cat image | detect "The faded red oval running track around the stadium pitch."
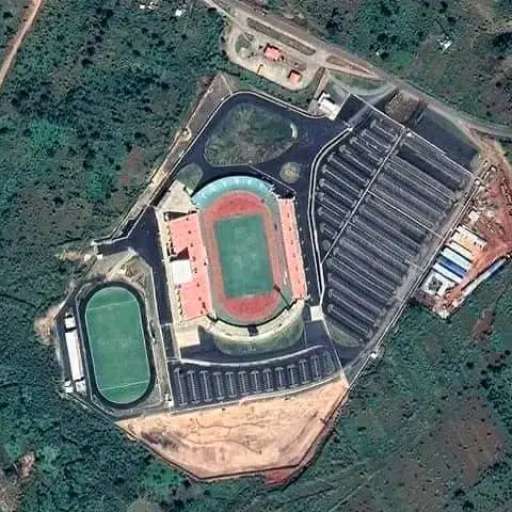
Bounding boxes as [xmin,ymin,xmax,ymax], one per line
[205,191,284,322]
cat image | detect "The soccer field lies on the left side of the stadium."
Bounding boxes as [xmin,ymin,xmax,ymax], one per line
[87,287,150,403]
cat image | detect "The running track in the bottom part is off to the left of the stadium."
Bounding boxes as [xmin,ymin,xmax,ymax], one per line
[81,280,156,410]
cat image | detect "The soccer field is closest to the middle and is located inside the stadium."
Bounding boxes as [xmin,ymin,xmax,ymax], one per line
[215,214,274,299]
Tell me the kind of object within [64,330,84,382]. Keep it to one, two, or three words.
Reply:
building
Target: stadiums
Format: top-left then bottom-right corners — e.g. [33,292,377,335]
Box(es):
[157,176,312,354]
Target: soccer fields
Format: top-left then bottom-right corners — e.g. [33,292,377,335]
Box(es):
[215,214,274,299]
[87,287,150,403]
